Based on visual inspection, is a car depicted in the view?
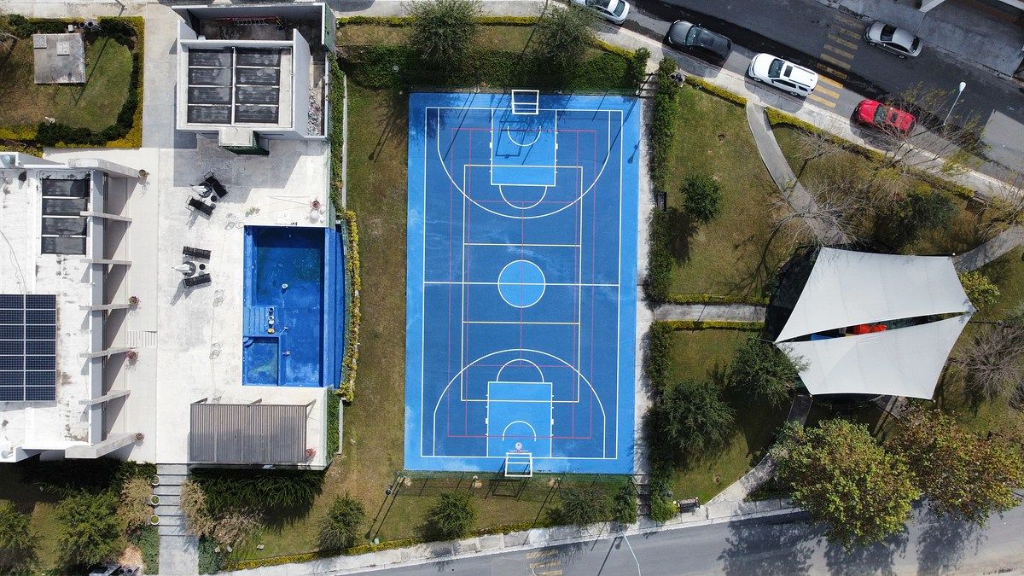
Yes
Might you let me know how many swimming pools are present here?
1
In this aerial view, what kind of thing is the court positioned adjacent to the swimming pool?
basketball court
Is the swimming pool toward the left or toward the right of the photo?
left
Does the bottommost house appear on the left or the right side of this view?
left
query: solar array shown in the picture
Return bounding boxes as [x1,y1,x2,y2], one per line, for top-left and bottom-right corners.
[0,294,57,401]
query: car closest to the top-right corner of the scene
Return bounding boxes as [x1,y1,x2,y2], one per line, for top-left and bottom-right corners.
[862,18,925,60]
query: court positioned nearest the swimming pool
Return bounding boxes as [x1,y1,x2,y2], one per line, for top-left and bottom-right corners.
[404,93,639,475]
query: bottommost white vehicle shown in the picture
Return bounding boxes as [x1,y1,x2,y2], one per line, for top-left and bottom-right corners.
[750,52,821,97]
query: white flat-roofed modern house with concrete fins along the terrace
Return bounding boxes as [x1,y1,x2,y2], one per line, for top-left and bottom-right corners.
[0,148,142,468]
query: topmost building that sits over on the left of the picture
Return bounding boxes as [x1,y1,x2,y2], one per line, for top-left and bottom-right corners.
[170,3,336,156]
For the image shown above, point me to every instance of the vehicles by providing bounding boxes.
[571,0,631,20]
[669,18,734,64]
[750,52,821,97]
[855,97,917,135]
[862,18,925,60]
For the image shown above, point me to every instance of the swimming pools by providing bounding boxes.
[241,224,349,388]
